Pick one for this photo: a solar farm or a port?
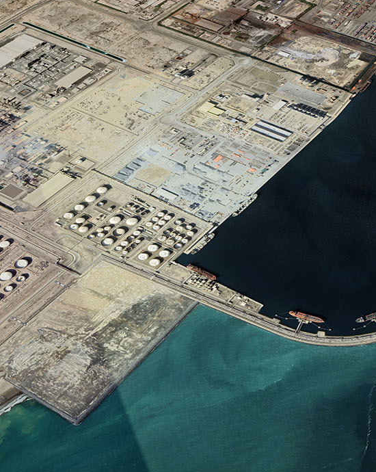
port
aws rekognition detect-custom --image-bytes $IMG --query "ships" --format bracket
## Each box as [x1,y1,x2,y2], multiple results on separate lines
[355,312,376,322]
[231,193,258,217]
[360,80,373,93]
[288,309,324,323]
[188,262,217,280]
[190,232,215,255]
